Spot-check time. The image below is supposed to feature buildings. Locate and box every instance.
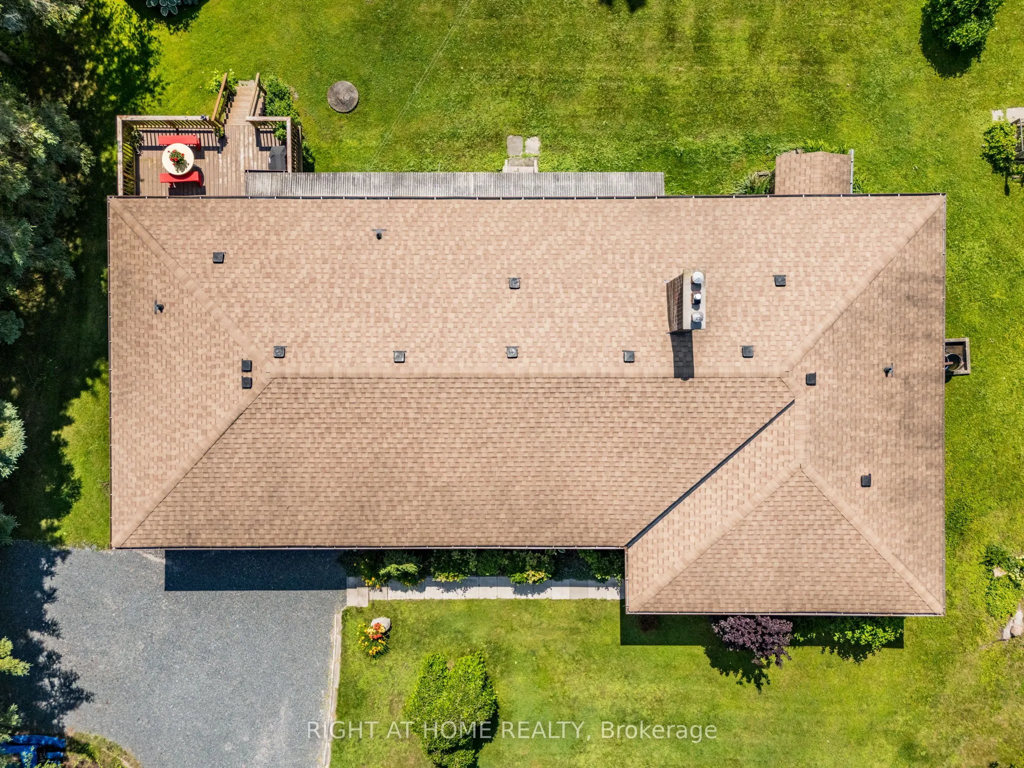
[108,152,954,615]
